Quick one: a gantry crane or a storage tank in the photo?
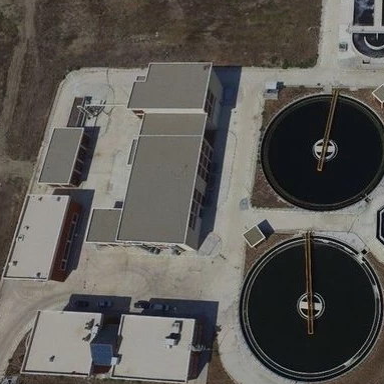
storage tank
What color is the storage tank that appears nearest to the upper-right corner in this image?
black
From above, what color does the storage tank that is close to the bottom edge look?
black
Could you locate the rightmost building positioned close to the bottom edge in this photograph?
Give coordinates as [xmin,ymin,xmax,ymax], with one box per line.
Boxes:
[110,315,213,382]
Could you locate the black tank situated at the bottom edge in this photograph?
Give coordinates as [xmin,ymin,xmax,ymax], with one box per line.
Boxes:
[239,232,384,384]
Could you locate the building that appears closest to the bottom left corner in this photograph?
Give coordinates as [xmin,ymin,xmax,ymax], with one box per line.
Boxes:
[22,311,117,377]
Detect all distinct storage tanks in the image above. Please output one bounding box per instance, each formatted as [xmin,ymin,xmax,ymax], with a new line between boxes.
[260,87,384,213]
[239,232,384,384]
